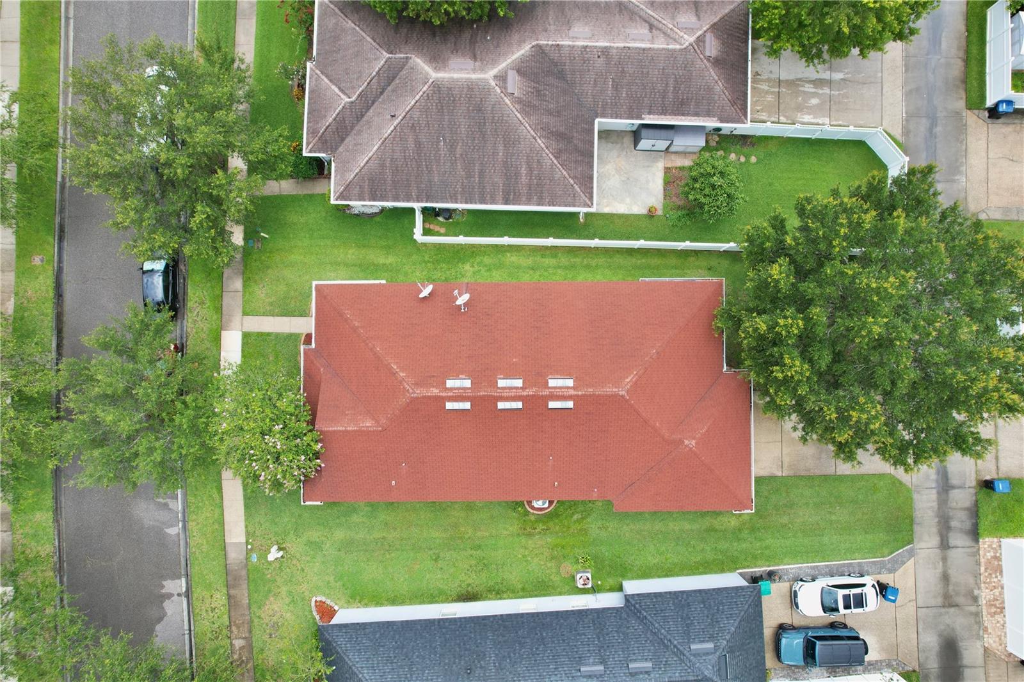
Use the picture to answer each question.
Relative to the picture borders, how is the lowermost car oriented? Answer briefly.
from left to right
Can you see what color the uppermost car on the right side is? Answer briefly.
white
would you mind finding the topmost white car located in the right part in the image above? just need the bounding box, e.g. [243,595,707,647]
[790,574,881,621]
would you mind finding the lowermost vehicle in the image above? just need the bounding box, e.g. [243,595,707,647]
[773,623,870,670]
